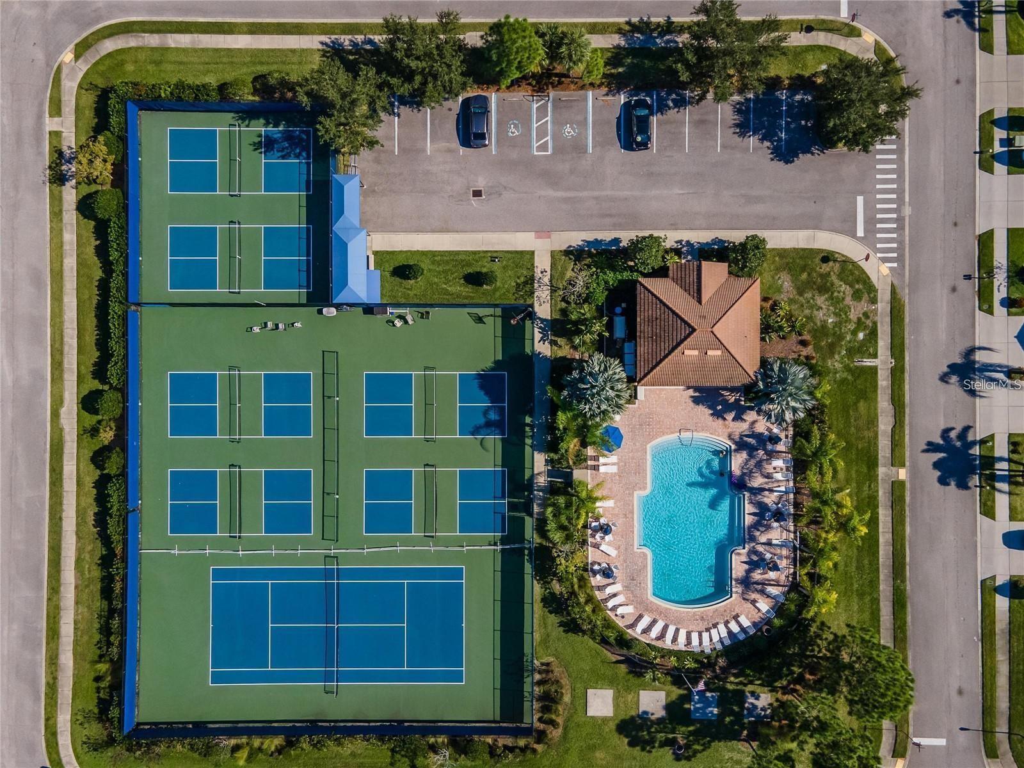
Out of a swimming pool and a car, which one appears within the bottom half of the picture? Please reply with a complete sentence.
What appears within the bottom half of the picture is a swimming pool.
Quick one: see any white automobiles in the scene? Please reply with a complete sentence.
No, no white automobile is visible in the scene.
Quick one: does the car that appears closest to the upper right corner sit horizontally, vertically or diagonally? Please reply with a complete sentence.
From this overhead view, the car that appears closest to the upper right corner appears to run vertically.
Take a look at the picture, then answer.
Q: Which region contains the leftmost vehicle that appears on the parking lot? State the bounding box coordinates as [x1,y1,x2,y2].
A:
[467,96,493,150]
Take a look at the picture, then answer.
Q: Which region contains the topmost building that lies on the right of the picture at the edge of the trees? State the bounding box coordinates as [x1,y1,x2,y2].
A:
[636,260,761,387]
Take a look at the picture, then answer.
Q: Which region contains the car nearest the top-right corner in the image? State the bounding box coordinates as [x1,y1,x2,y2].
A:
[629,98,655,153]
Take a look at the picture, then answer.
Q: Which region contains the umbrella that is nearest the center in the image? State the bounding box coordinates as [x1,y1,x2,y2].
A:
[598,424,626,452]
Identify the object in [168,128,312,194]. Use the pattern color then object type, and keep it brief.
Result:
blue sports court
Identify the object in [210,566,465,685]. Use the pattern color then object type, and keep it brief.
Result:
blue tennis court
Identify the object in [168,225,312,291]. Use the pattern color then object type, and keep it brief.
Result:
blue sports court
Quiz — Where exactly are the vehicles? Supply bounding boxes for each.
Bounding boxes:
[467,96,493,150]
[629,98,655,153]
